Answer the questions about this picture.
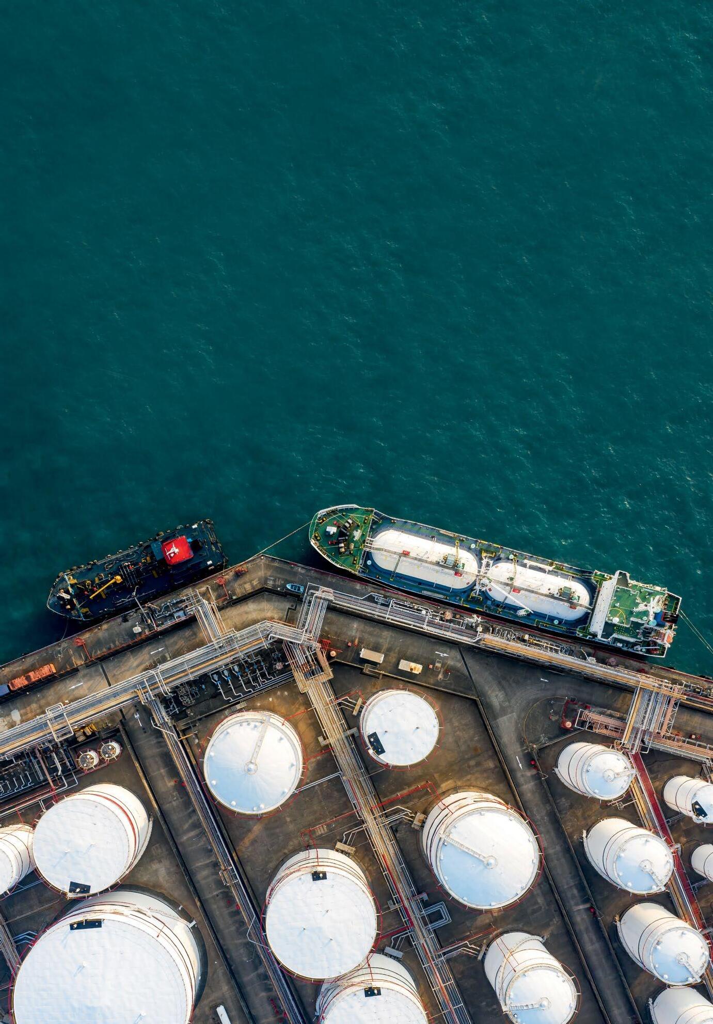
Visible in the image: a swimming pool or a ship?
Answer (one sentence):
Looking from above, you can make out a ship.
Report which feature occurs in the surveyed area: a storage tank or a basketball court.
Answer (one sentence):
I can see a storage tank in this picture.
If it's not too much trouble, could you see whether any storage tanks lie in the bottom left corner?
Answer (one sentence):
Yes, in the bottom left corner there is a storage tank.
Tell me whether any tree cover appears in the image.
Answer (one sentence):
No, the scene doesn't show any tree cover.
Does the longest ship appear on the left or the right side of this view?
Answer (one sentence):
It is on the right.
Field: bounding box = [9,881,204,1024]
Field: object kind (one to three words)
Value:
storage tank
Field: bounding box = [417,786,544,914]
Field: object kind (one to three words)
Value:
storage tank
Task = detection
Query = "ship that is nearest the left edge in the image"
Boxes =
[47,516,231,620]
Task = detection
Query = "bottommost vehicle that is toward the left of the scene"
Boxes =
[216,1000,236,1024]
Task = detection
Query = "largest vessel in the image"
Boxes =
[307,507,682,656]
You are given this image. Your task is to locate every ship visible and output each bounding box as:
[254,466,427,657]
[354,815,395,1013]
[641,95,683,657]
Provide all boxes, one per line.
[47,516,231,620]
[307,507,682,656]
